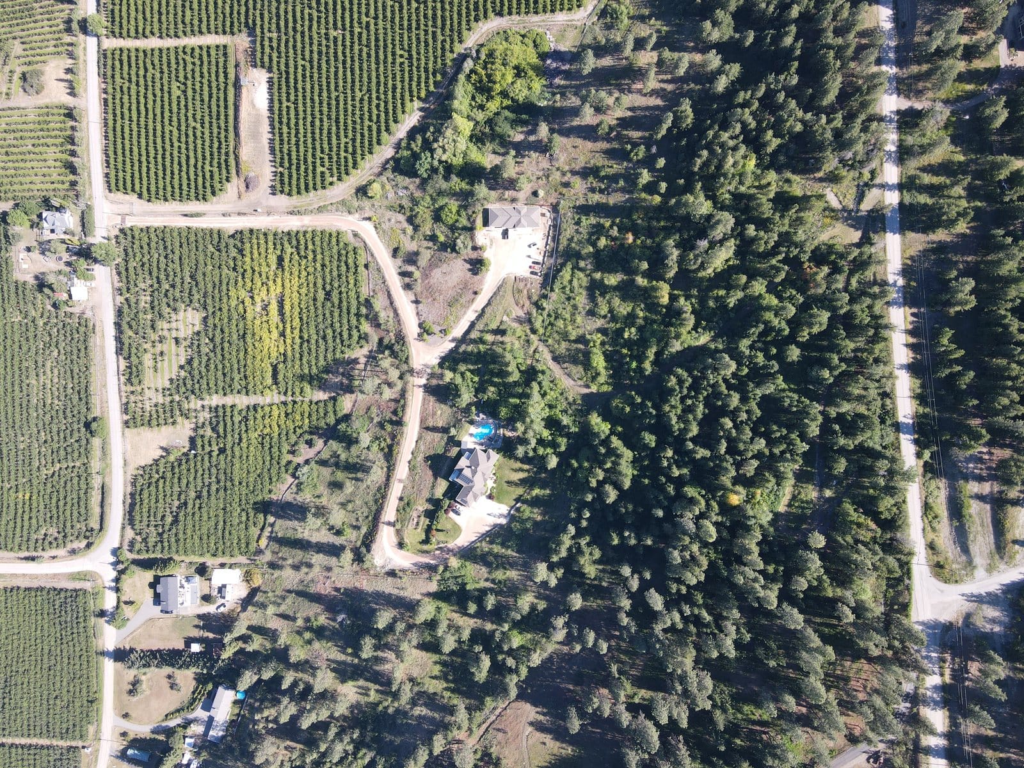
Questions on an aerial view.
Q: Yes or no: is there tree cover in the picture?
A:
Yes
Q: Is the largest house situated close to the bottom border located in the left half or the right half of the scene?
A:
left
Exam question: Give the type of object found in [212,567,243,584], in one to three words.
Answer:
building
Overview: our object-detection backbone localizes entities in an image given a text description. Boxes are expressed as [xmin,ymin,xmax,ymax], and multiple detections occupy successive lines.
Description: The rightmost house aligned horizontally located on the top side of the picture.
[489,207,540,228]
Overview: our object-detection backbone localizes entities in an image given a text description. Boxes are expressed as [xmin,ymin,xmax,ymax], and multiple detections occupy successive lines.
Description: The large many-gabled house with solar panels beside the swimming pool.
[449,447,500,507]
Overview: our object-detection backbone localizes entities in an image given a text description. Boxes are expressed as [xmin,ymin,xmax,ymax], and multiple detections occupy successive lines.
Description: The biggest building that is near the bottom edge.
[207,682,238,742]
